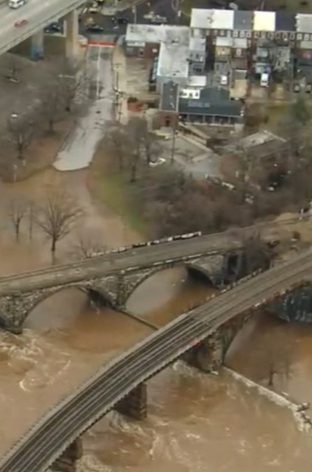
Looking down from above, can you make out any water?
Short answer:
Yes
